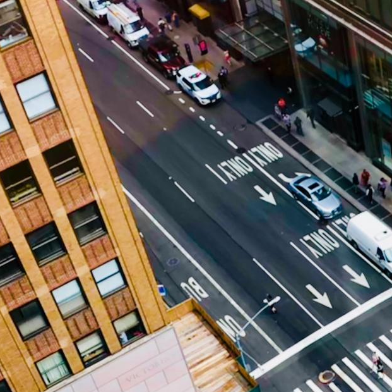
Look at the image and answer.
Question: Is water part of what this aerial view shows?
No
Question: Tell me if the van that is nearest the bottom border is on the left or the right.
right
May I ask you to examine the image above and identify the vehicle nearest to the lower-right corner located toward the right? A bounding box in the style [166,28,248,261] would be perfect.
[345,203,392,270]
